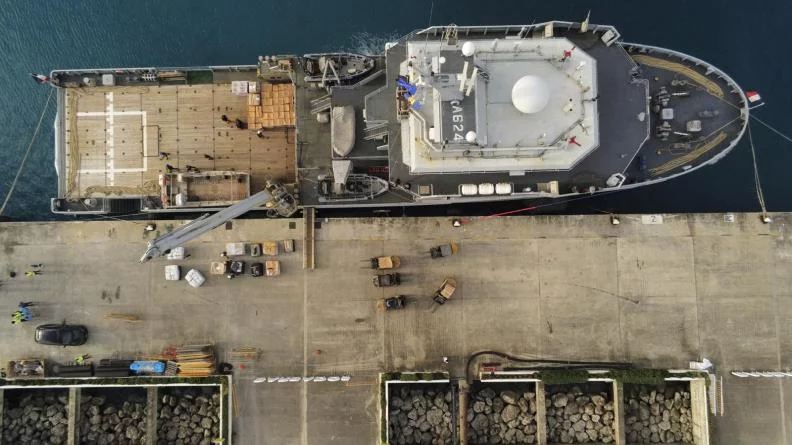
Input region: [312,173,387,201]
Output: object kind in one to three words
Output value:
boat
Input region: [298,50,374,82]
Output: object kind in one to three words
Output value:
boat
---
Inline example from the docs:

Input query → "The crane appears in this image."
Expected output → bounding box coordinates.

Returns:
[138,167,299,262]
